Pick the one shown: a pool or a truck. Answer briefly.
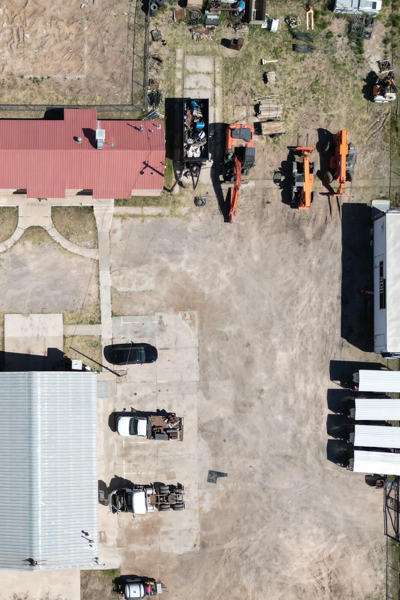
truck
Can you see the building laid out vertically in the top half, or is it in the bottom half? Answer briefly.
bottom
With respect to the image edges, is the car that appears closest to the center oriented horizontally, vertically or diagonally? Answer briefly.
horizontally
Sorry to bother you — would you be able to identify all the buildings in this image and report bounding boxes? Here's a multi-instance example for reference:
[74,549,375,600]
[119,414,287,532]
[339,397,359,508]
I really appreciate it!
[0,108,165,198]
[0,360,102,570]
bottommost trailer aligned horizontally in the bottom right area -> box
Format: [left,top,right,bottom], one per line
[334,449,400,476]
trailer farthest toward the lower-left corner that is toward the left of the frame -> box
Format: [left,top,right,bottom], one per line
[118,580,166,600]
